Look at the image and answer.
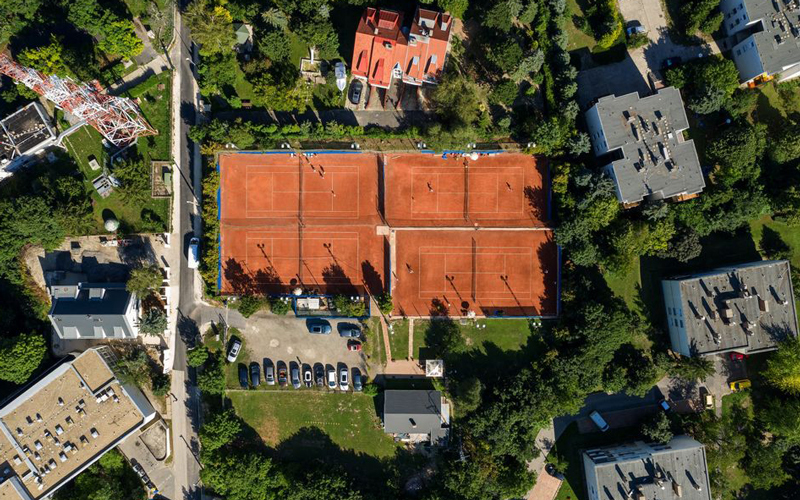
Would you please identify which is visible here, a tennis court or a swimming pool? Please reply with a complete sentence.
Of the two, only a tennis court appears.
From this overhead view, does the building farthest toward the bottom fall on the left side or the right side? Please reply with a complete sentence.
You can find the building farthest toward the bottom on the right side of the picture.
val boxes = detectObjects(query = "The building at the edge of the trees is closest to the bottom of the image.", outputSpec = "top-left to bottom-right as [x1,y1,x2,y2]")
[582,431,712,500]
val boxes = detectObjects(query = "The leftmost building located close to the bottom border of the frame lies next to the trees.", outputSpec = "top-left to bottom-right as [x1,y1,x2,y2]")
[0,344,159,500]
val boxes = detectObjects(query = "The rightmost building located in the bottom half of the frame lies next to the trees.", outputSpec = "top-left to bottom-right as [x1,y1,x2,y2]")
[662,259,800,357]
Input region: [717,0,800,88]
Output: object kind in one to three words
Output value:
building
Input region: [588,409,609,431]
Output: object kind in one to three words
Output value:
vehicle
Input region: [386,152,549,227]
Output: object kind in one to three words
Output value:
tennis court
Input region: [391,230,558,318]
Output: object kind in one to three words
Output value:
tennis court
